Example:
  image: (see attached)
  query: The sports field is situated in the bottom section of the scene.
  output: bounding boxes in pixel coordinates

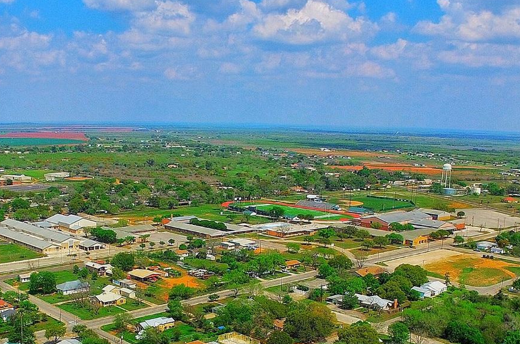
[225,202,349,218]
